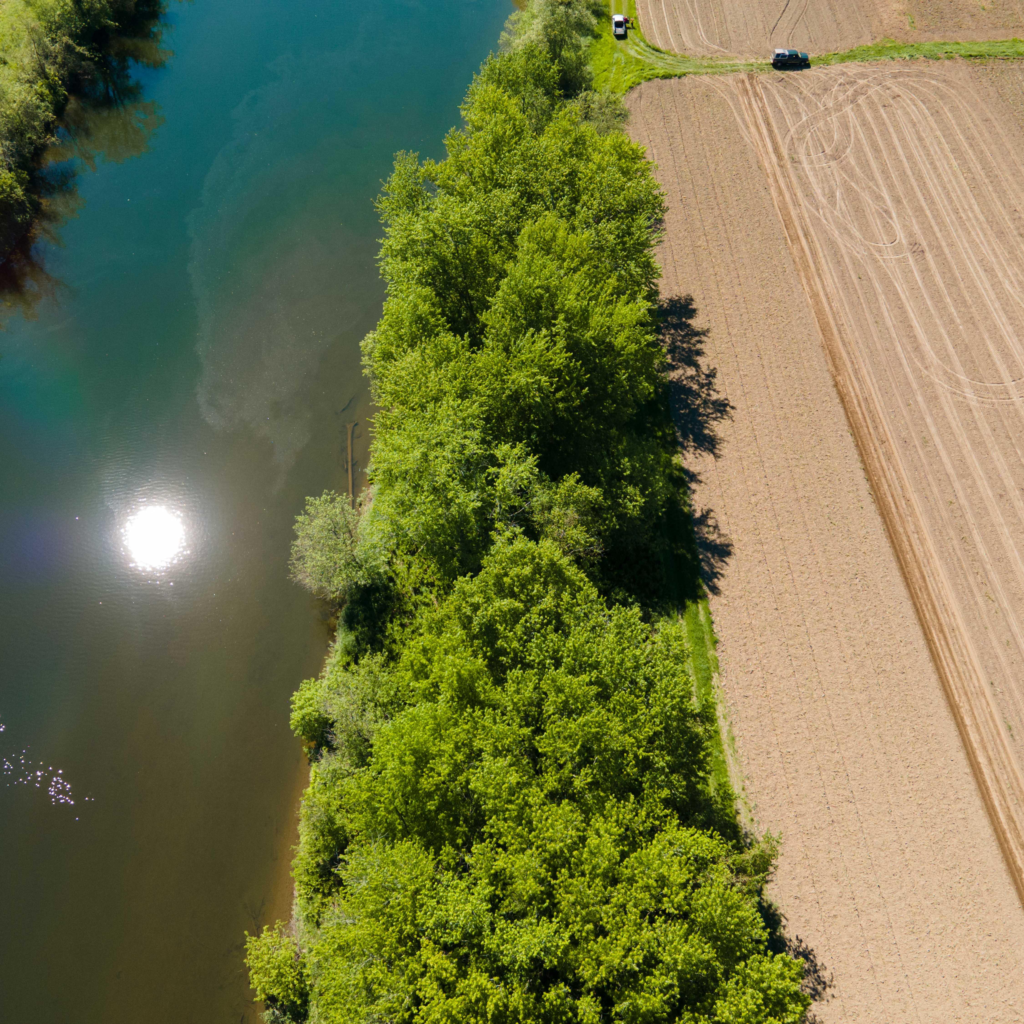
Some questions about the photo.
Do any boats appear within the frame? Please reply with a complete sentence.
No, no boat is visible in the scene.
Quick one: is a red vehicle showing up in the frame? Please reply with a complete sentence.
No, there's no red vehicle here.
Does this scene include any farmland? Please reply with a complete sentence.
Yes, farmland can be seen from above here.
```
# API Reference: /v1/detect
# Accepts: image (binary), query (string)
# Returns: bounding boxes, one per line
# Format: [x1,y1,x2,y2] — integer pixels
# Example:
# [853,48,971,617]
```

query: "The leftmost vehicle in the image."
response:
[609,13,631,35]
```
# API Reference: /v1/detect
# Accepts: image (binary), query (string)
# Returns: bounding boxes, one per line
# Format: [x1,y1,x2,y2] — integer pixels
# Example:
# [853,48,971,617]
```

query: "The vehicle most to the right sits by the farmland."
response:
[768,47,810,66]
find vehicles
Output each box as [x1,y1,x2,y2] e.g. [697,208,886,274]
[609,13,631,35]
[768,47,810,66]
